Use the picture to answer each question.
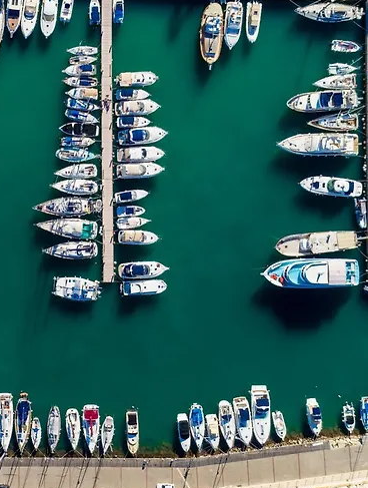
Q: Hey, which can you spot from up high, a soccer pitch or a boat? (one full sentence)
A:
It is a boat that can be seen here.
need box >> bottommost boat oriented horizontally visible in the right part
[264,256,366,292]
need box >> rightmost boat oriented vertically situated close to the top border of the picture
[245,0,261,42]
